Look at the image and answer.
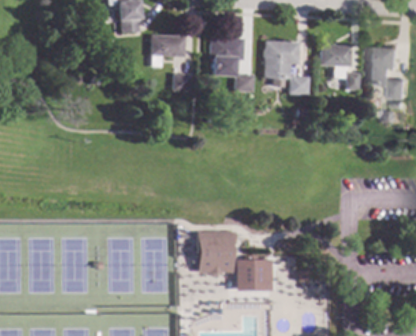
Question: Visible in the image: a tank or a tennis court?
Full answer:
There is a tennis court in the scene.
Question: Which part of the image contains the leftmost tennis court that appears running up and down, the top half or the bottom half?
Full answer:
The leftmost tennis court that appears running up and down sits in the bottom half of the picture.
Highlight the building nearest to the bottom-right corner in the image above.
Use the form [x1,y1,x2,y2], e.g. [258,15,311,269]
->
[237,260,272,291]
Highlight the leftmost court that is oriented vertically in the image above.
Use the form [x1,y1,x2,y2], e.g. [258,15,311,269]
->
[0,238,22,294]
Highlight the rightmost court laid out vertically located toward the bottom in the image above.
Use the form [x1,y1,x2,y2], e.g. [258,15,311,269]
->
[141,238,168,294]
